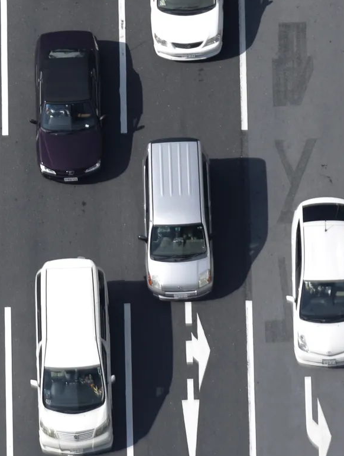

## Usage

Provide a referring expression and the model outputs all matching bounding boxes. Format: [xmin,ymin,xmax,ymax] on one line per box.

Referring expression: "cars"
[30,256,117,455]
[137,134,219,299]
[29,32,109,183]
[144,0,227,60]
[285,198,344,365]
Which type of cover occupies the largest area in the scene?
paved ground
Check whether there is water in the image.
No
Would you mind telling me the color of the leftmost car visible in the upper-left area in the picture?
black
